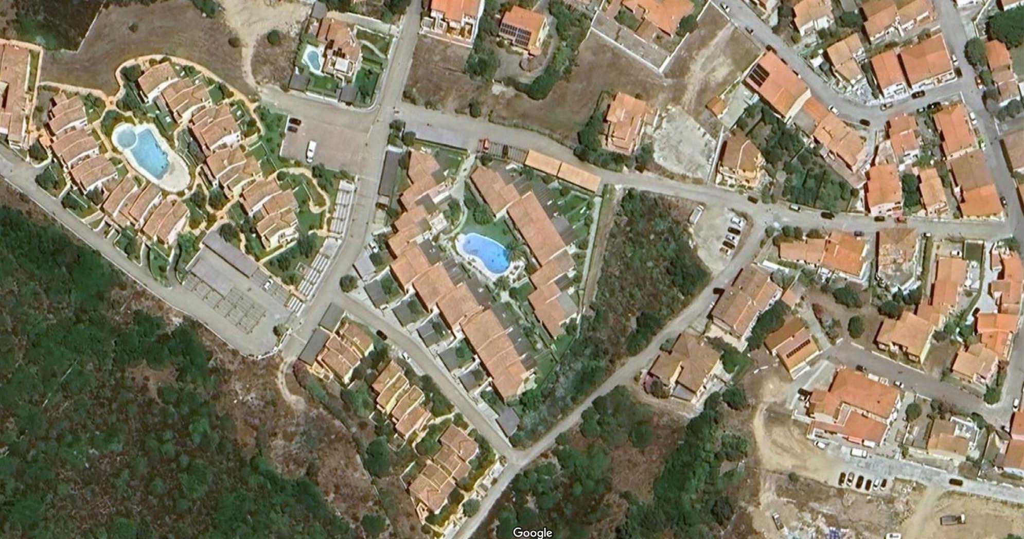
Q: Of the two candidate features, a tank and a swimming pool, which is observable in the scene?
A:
swimming pool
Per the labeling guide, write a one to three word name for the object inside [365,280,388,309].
building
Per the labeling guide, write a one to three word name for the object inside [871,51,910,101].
house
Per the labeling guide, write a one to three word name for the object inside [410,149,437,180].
house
